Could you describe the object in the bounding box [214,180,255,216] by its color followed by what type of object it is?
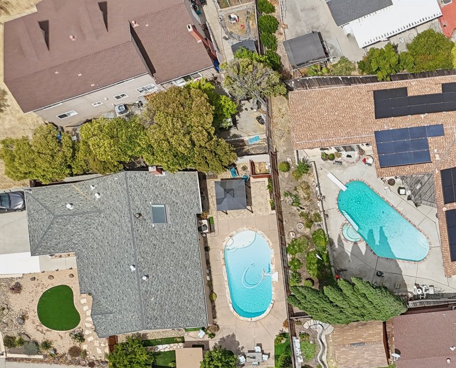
gray gazebo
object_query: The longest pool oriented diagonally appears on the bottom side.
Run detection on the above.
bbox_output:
[335,178,432,264]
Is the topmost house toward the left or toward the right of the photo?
right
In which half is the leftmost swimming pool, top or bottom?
bottom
